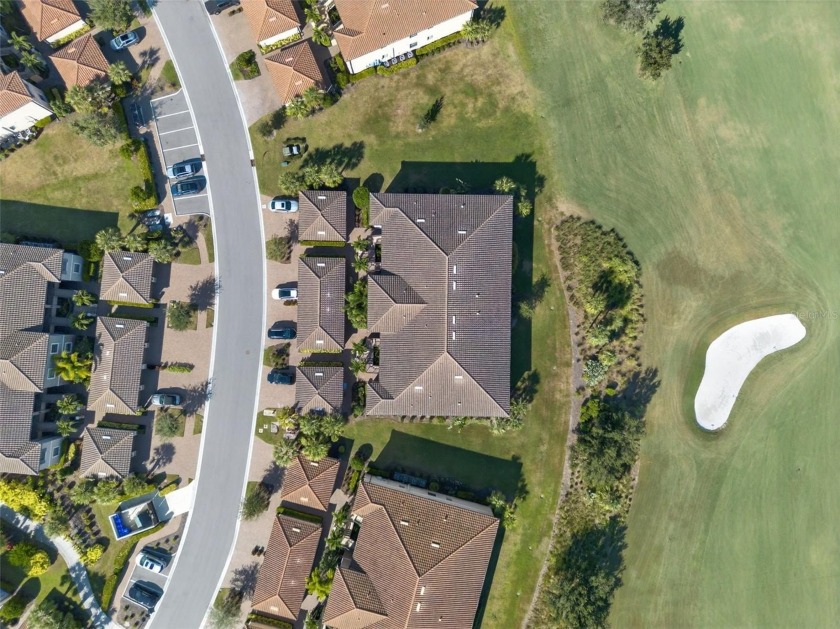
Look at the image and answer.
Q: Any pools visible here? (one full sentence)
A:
No, there's no pool here.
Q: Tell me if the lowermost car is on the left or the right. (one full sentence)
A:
The lowermost car is on the left side of the image.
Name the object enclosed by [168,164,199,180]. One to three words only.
car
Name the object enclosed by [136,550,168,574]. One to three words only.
car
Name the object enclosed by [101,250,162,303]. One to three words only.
building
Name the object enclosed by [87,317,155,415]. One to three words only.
building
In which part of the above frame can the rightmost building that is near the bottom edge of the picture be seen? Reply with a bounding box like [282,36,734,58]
[320,472,500,629]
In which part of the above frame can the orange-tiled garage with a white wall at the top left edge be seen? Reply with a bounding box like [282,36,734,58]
[16,0,89,43]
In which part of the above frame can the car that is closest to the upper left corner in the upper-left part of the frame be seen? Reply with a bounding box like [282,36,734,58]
[112,32,141,52]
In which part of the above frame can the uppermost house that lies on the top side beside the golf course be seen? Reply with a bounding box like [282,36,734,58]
[321,0,479,72]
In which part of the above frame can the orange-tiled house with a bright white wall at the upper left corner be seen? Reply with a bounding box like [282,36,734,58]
[0,17,58,148]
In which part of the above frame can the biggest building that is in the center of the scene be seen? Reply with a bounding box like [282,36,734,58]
[365,192,514,417]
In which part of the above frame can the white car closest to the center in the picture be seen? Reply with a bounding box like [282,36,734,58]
[272,287,298,301]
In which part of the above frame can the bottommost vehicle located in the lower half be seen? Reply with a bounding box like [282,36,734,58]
[128,581,160,605]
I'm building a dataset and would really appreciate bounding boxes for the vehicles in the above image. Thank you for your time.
[269,199,299,213]
[136,550,168,574]
[207,0,239,16]
[128,581,160,605]
[168,164,199,180]
[269,327,298,340]
[152,393,185,406]
[172,180,205,195]
[112,32,141,52]
[272,287,298,301]
[267,371,296,385]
